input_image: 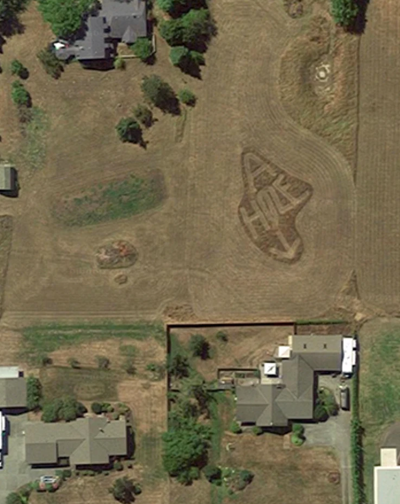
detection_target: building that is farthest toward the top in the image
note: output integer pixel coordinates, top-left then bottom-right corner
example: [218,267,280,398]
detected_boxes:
[73,0,145,58]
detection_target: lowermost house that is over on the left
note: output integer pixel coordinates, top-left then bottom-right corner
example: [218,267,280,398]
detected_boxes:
[24,417,126,465]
